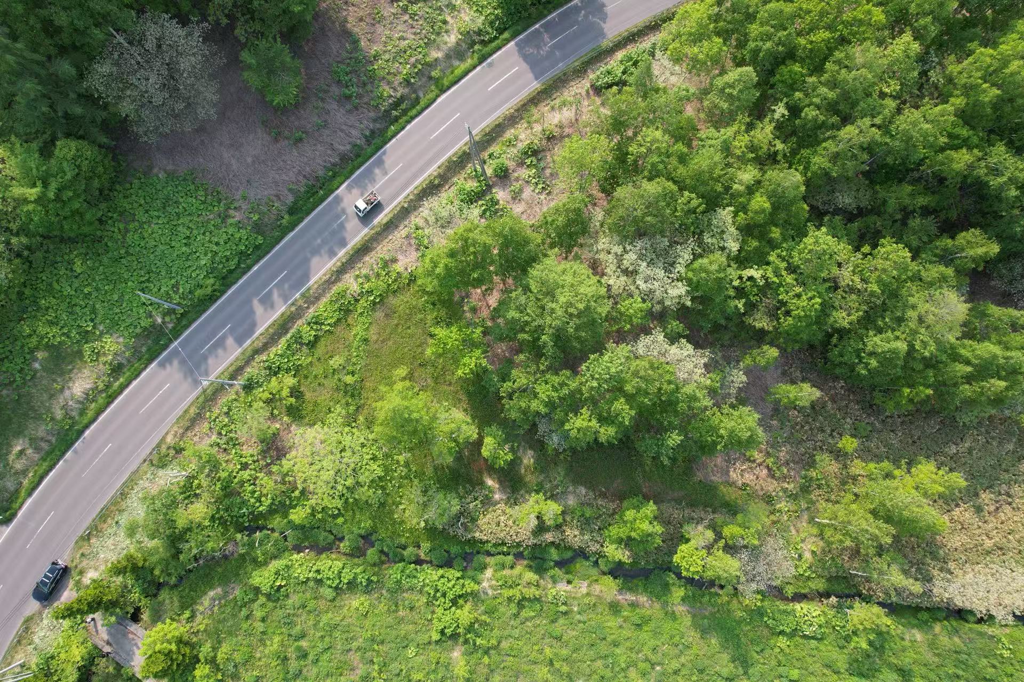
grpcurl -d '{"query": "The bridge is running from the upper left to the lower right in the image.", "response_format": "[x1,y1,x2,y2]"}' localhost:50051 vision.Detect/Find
[87,607,181,682]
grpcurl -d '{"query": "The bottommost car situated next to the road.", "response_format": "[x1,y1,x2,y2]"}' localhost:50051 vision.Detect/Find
[36,559,71,602]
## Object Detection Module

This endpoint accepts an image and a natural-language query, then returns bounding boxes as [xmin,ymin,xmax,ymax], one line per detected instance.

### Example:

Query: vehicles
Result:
[36,559,71,602]
[354,190,381,217]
